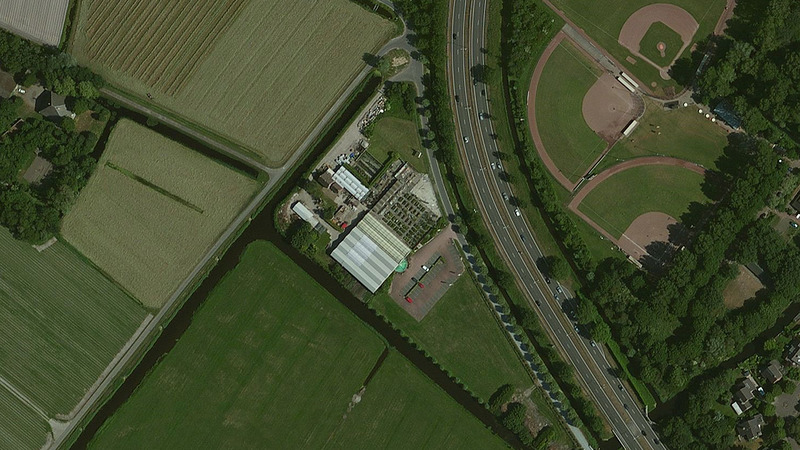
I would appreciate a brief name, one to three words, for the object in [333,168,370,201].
greenhouse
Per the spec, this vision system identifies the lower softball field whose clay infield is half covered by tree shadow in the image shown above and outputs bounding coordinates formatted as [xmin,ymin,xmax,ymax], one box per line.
[569,157,719,271]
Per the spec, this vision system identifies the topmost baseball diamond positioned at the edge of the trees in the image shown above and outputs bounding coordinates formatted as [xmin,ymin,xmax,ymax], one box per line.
[548,0,736,98]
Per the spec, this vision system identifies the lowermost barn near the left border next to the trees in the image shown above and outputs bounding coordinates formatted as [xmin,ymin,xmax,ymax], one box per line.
[24,155,52,184]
